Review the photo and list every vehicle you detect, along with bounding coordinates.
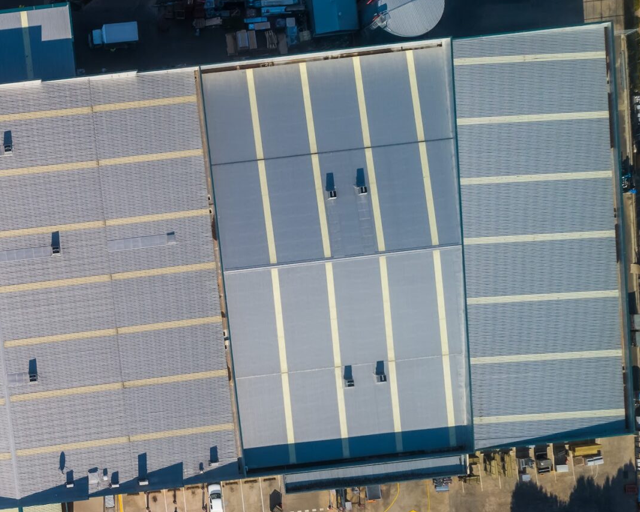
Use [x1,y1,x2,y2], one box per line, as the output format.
[206,483,225,512]
[90,19,141,47]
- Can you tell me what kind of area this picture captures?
industrial area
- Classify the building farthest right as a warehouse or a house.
warehouse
